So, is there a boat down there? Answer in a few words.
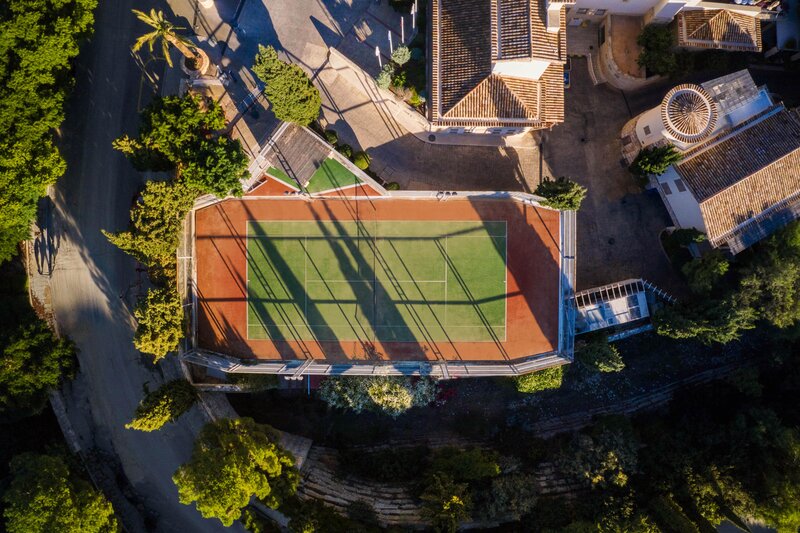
No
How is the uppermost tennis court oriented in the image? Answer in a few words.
from side to side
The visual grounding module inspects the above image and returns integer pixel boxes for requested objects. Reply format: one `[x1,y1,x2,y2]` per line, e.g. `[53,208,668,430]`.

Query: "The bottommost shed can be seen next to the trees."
[564,277,649,334]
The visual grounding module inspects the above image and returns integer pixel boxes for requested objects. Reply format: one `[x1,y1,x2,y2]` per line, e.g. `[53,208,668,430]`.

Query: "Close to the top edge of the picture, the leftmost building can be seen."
[431,0,569,134]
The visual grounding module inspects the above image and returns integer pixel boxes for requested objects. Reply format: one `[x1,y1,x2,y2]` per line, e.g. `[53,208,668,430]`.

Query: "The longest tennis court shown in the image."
[196,199,559,363]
